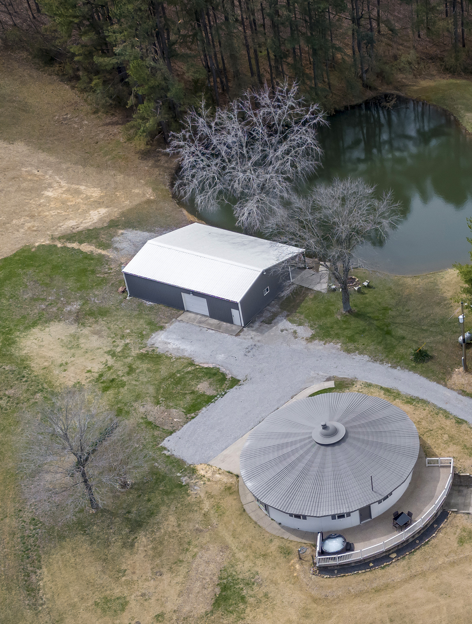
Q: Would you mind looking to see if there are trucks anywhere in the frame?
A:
No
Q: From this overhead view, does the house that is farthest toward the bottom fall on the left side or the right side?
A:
right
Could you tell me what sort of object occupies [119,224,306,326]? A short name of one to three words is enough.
barn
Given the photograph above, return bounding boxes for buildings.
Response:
[119,224,306,326]
[239,390,418,531]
